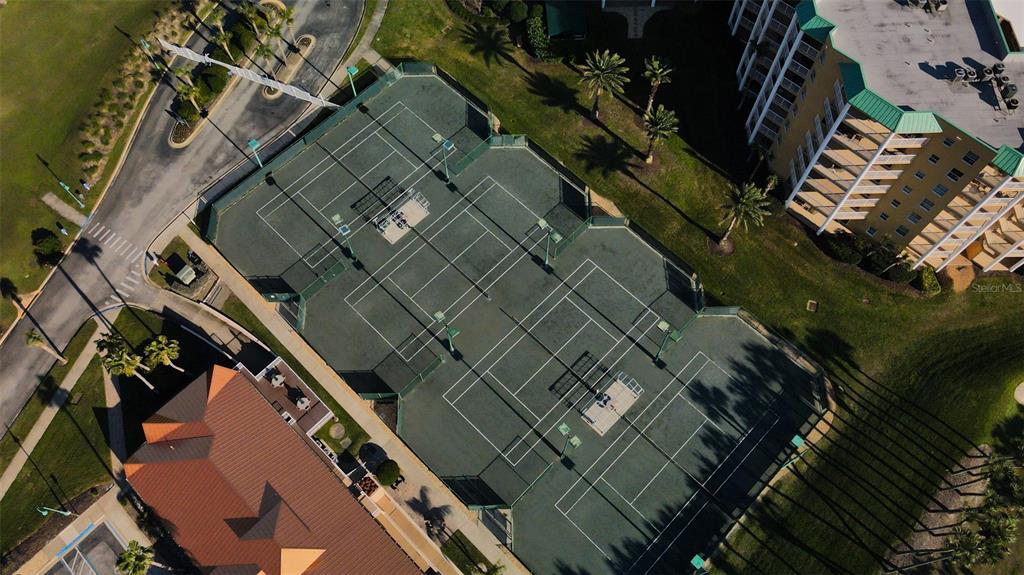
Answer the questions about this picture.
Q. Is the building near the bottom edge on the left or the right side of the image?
left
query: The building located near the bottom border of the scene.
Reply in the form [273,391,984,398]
[120,364,433,575]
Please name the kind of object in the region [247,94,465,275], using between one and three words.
tennis court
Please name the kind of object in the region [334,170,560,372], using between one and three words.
tennis court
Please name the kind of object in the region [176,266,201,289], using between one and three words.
shed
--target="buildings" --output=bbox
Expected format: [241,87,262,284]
[176,266,201,289]
[120,364,433,575]
[725,0,1024,274]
